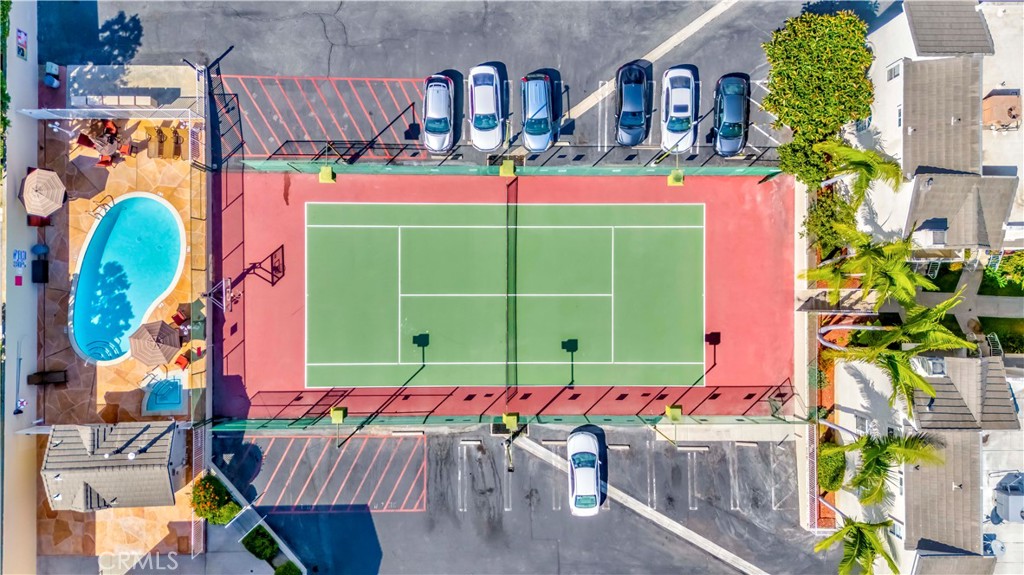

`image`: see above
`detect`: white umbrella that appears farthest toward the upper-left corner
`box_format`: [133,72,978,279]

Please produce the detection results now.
[22,170,71,215]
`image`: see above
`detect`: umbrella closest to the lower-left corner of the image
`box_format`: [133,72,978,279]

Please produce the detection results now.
[130,318,180,368]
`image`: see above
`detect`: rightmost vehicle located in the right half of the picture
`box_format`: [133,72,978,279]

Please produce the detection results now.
[712,75,750,157]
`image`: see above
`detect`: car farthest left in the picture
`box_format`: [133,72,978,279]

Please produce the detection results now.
[419,75,456,154]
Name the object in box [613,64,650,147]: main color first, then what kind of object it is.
blue car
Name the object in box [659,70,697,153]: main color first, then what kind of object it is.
white car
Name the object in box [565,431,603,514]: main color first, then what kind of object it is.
white car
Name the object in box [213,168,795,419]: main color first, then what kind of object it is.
green tennis court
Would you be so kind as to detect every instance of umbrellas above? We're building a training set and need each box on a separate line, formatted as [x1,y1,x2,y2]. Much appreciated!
[22,170,71,215]
[130,318,180,368]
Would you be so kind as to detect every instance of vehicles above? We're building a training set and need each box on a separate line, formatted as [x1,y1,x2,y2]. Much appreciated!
[518,73,556,153]
[565,431,603,514]
[613,64,650,147]
[659,70,697,153]
[467,66,505,152]
[712,75,750,157]
[419,75,456,154]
